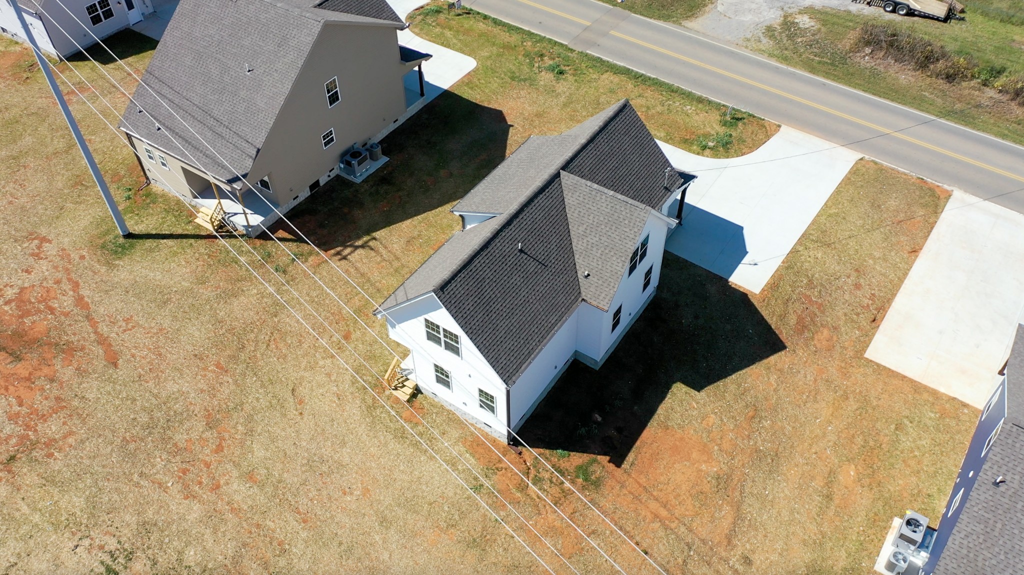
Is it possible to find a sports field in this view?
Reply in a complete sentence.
No, there is no sports field in the image.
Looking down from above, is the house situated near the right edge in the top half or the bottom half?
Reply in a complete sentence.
The bottom half of the photo is where the house situated near the right edge is.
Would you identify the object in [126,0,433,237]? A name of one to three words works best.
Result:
house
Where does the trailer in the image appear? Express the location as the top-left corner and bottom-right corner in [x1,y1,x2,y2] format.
[866,0,970,26]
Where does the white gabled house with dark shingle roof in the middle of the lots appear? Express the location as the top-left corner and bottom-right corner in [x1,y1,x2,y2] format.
[372,99,698,446]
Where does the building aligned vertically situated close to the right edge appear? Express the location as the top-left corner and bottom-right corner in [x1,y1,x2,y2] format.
[924,332,1024,575]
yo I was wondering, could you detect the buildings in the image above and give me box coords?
[924,332,1024,575]
[0,0,153,63]
[372,99,698,446]
[126,0,433,237]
